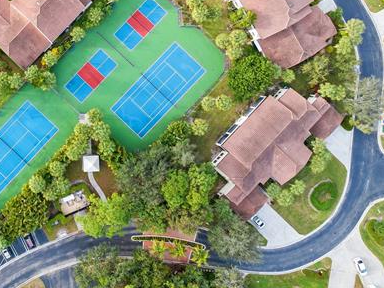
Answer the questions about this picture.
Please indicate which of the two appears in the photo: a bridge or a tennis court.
tennis court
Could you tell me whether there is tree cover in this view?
Yes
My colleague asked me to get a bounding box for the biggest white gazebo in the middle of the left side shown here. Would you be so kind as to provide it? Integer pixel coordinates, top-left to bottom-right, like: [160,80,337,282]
[82,155,99,172]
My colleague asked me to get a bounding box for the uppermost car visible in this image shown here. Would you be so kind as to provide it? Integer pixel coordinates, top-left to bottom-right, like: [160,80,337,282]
[252,216,267,230]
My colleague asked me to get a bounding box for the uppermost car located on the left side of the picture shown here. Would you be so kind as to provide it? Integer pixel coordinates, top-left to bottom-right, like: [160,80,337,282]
[22,232,36,251]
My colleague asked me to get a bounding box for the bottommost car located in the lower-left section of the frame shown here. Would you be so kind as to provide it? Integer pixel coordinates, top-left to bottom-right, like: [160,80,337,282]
[2,247,15,262]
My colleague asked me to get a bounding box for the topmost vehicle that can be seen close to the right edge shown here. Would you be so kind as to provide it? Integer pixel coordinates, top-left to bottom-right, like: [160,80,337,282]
[355,258,370,278]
